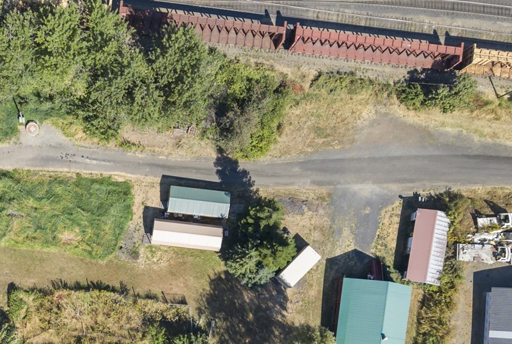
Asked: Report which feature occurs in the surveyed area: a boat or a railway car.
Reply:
railway car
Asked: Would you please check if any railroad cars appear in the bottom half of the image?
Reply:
No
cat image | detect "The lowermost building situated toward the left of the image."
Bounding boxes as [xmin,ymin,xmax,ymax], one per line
[151,219,223,252]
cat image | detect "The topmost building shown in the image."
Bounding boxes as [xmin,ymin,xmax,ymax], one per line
[167,186,231,219]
